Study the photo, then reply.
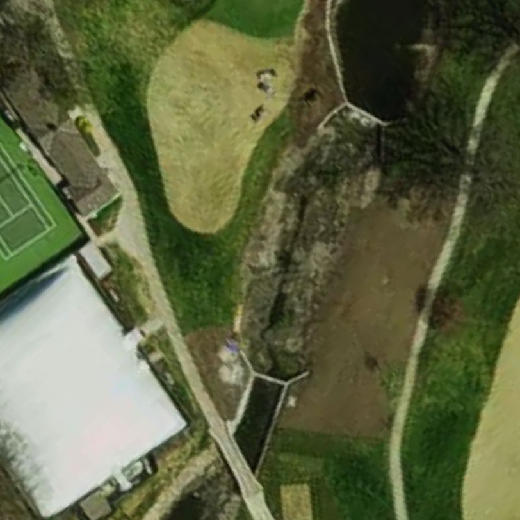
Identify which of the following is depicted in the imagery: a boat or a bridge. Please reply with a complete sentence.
The one in the frame is a bridge.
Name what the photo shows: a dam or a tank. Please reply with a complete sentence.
This aerial view contains a dam.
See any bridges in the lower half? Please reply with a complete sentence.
Yes, there is a bridge in the lower half.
